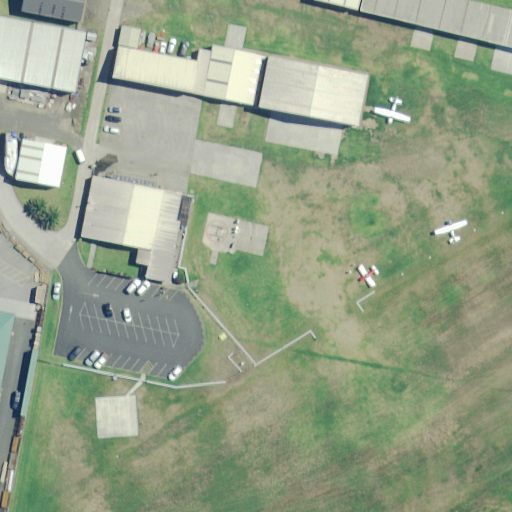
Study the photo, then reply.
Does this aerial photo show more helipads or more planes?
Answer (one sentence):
Fewer helipads than planes are visible.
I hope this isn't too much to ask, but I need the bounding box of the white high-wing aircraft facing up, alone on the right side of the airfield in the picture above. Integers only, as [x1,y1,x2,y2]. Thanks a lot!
[434,219,468,242]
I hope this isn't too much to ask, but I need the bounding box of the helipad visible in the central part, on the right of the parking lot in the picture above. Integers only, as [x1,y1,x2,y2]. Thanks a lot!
[203,212,268,264]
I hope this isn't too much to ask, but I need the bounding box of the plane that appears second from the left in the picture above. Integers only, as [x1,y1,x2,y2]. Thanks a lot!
[374,98,410,125]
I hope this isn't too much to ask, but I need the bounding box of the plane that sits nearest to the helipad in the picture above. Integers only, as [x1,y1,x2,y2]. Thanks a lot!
[358,266,378,287]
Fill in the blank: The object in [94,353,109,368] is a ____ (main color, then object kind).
white vehicle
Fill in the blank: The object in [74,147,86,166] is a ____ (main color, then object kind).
white vehicle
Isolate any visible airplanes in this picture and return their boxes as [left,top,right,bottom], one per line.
[374,98,410,125]
[434,219,468,242]
[358,266,378,287]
